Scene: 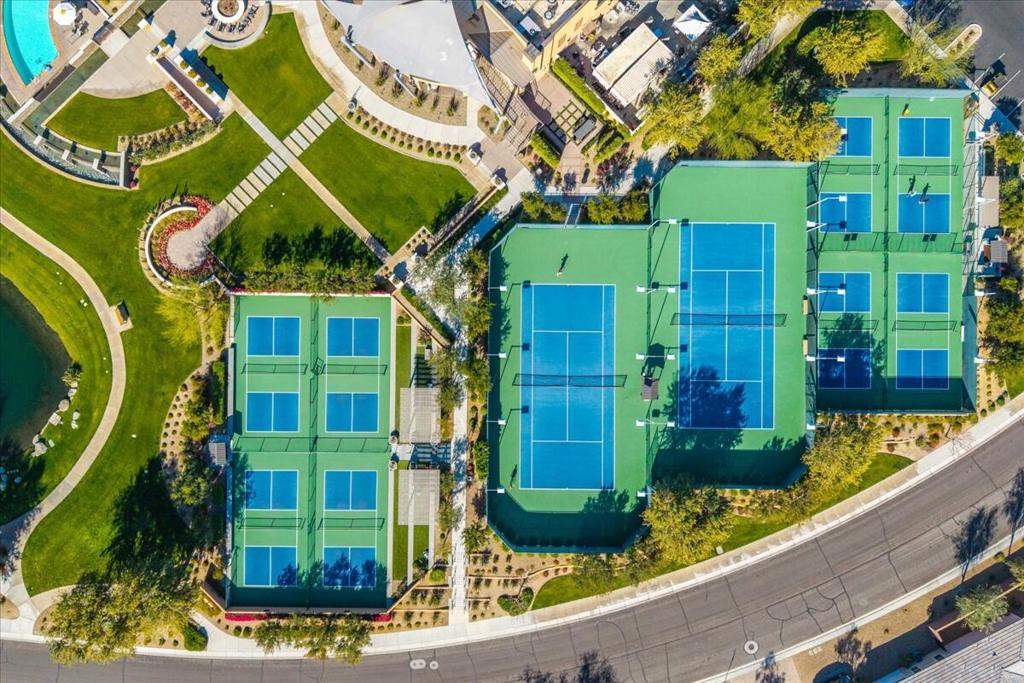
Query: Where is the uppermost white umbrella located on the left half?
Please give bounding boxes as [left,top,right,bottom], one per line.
[54,3,77,25]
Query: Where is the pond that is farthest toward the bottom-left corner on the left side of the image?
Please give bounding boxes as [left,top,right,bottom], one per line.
[0,279,53,454]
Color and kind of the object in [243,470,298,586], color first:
blue sports court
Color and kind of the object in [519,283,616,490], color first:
blue tennis court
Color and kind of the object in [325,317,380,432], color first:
blue sports court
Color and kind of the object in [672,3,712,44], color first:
white umbrella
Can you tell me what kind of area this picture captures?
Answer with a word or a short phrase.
sports ground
